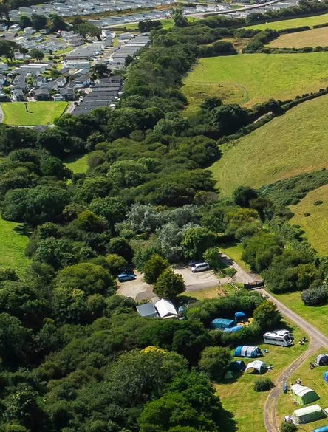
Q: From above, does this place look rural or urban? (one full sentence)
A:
This place is rural.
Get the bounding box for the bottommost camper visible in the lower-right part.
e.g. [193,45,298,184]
[262,330,294,347]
